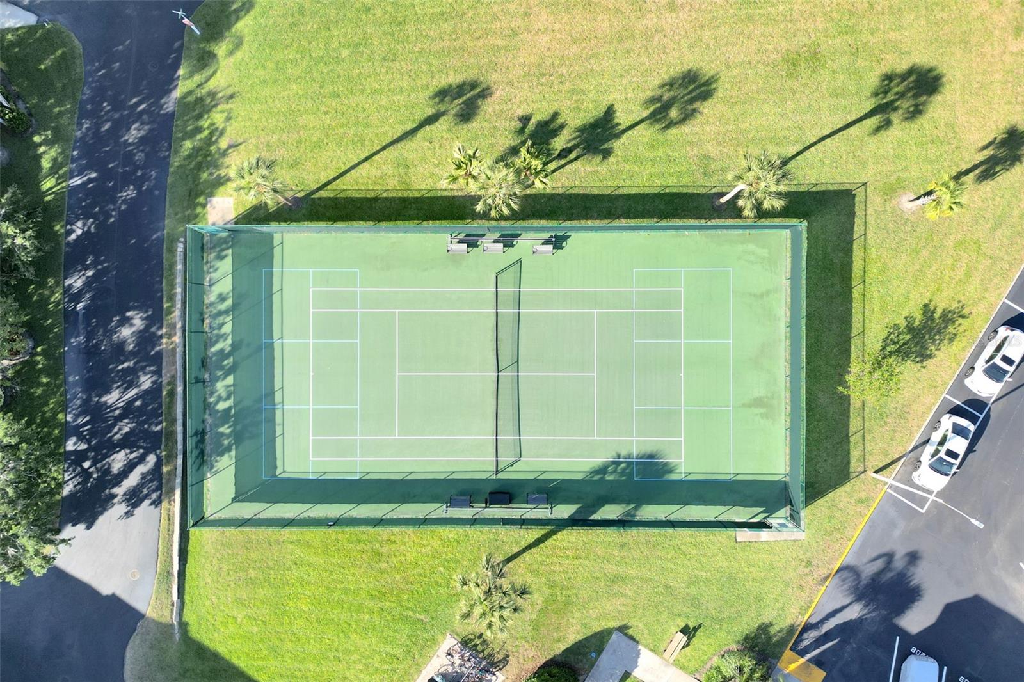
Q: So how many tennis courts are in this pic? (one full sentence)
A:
In total, 1 tennis court can be seen.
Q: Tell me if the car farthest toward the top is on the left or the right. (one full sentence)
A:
The car farthest toward the top is on the right side of the image.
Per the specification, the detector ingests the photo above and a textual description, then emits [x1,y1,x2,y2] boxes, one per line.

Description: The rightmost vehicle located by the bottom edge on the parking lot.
[904,655,938,682]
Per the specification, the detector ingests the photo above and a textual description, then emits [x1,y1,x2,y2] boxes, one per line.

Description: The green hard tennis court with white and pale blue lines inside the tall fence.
[206,232,791,517]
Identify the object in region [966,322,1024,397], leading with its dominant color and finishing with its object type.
white car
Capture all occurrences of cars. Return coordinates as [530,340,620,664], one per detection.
[904,655,938,682]
[916,413,975,490]
[966,322,1024,397]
